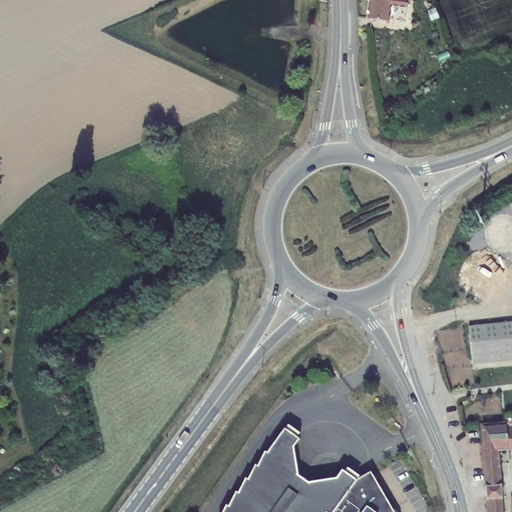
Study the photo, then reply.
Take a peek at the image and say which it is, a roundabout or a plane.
roundabout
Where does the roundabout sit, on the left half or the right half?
right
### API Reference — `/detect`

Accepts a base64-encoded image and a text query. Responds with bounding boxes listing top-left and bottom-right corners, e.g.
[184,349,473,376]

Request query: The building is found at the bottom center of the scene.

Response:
[224,424,394,512]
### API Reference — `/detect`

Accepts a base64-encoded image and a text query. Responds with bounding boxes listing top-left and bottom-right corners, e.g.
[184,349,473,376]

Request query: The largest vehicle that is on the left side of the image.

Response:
[176,428,190,445]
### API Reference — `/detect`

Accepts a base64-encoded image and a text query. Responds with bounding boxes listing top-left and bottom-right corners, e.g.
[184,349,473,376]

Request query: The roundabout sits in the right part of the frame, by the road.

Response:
[256,146,436,316]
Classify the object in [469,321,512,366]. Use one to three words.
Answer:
hangar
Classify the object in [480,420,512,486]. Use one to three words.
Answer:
house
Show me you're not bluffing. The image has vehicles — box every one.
[456,432,466,440]
[446,406,457,412]
[273,284,280,296]
[398,320,404,330]
[398,472,408,480]
[473,474,484,480]
[326,292,338,300]
[306,164,316,173]
[176,428,190,445]
[452,492,458,502]
[468,432,478,437]
[410,392,418,404]
[494,154,507,163]
[364,154,376,162]
[472,468,484,474]
[403,483,414,492]
[470,438,480,443]
[478,266,492,276]
[448,421,459,426]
